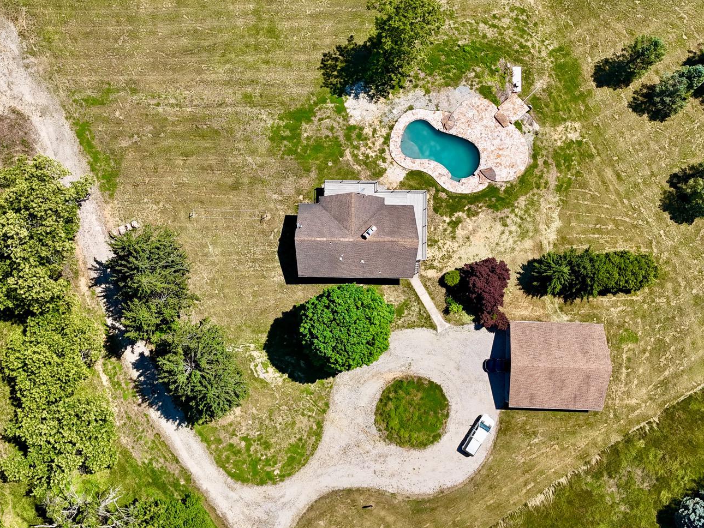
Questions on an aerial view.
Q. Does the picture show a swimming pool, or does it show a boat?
swimming pool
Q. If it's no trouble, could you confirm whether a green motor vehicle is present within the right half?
No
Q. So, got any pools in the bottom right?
No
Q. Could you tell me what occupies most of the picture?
grass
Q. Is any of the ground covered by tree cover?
Yes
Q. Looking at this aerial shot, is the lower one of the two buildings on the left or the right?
right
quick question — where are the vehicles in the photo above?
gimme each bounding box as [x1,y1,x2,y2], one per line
[461,413,492,458]
[482,359,511,374]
